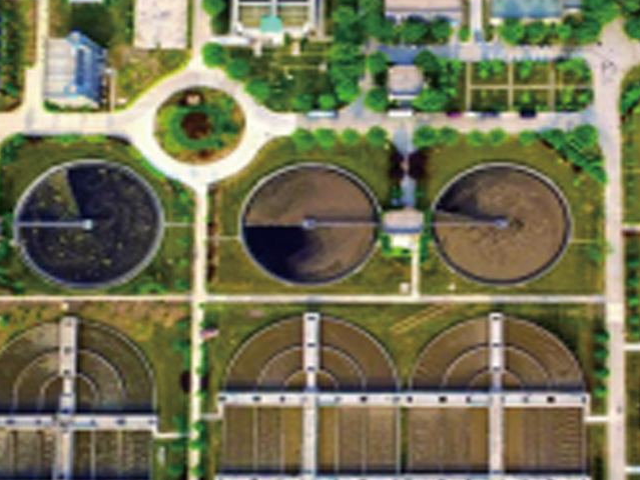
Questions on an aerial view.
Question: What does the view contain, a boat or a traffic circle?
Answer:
traffic circle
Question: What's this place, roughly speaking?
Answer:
industrial area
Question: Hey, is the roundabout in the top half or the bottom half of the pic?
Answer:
top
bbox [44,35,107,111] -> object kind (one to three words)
building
